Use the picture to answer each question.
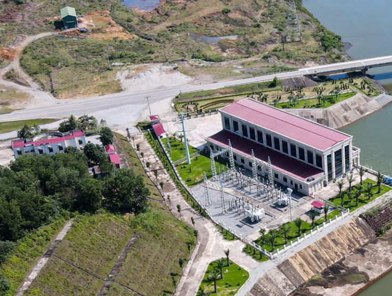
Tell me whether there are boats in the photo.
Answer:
No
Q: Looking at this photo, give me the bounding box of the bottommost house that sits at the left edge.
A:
[9,120,86,158]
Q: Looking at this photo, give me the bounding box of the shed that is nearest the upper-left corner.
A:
[57,4,80,27]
